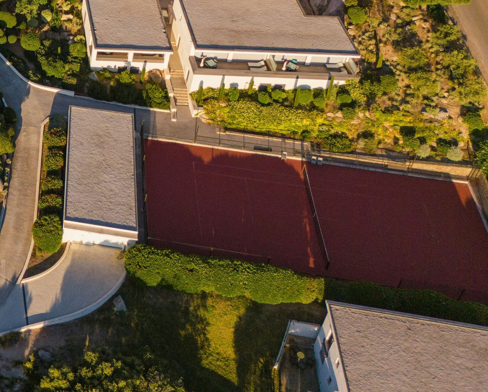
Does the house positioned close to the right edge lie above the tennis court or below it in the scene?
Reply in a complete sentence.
From this view, the house positioned close to the right edge can be seen below the tennis court.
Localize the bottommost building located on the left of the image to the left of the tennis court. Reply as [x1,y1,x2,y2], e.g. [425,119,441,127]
[61,105,139,257]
